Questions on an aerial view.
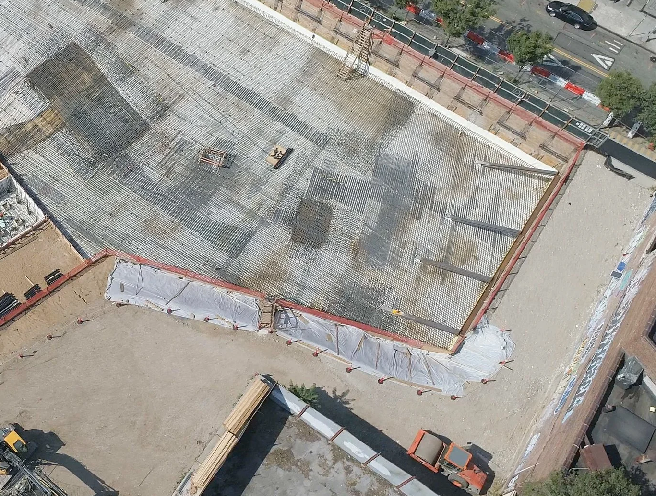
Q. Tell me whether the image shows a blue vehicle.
No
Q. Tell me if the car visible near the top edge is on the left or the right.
right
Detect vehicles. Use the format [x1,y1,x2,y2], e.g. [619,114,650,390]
[415,436,493,496]
[549,6,597,36]
[0,420,67,496]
